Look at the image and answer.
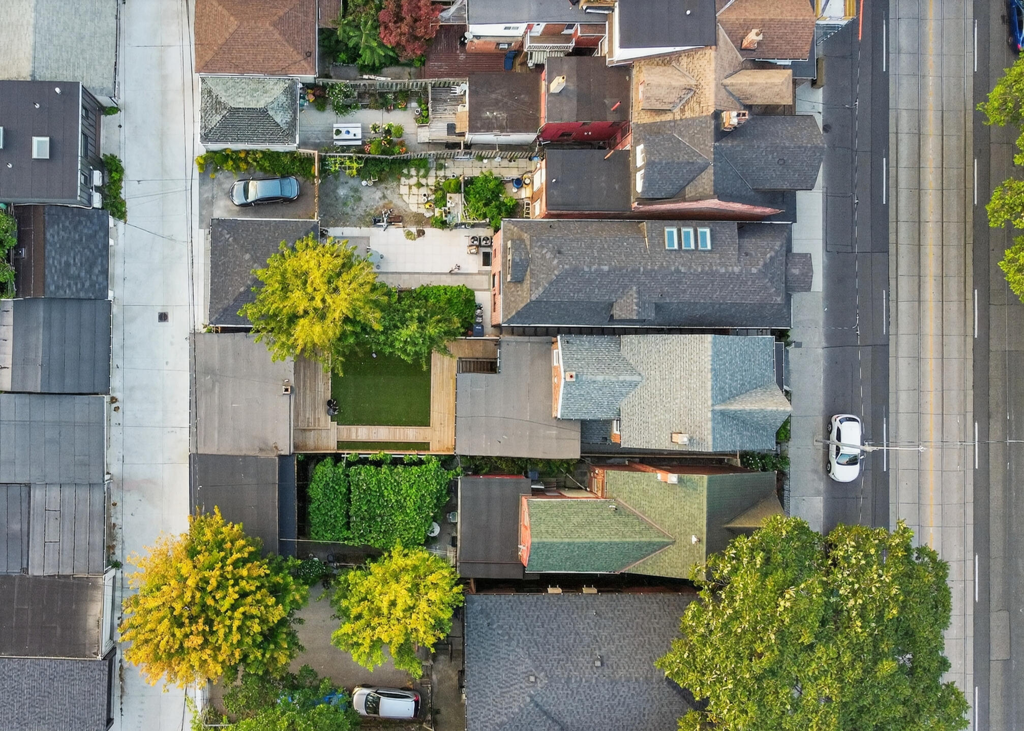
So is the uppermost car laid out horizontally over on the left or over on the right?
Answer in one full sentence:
The uppermost car laid out horizontally appears in the left half of the scene.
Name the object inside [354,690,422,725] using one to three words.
car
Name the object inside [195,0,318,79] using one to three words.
building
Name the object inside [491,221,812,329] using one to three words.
house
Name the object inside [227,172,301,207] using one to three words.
car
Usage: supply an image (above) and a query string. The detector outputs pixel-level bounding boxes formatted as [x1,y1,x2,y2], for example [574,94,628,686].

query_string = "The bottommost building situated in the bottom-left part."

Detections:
[0,653,115,731]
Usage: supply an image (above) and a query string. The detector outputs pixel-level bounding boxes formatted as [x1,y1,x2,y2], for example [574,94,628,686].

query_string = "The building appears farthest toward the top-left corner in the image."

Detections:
[0,0,121,101]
